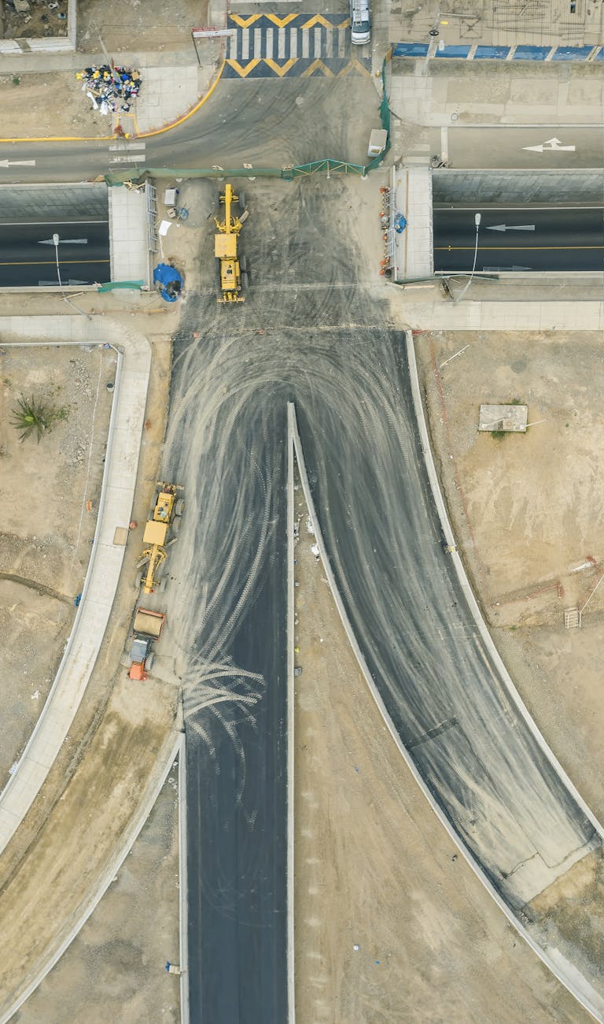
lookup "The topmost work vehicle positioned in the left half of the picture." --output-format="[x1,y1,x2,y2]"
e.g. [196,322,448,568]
[212,189,248,309]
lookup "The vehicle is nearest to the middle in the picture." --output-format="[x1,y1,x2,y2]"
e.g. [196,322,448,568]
[133,479,185,595]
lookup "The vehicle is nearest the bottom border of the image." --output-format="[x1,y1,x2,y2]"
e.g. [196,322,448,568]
[125,608,167,684]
